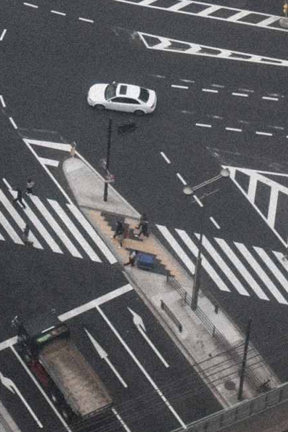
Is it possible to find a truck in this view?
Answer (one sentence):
Yes, a truck appears in the view.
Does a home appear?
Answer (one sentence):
No, no home is visible in the view.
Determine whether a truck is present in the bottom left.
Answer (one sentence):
Yes, there is a truck in the bottom left.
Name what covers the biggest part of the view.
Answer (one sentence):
What you mostly see from above here is paved ground.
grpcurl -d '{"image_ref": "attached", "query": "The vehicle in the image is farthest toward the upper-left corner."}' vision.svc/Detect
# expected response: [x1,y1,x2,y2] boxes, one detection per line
[85,78,161,117]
